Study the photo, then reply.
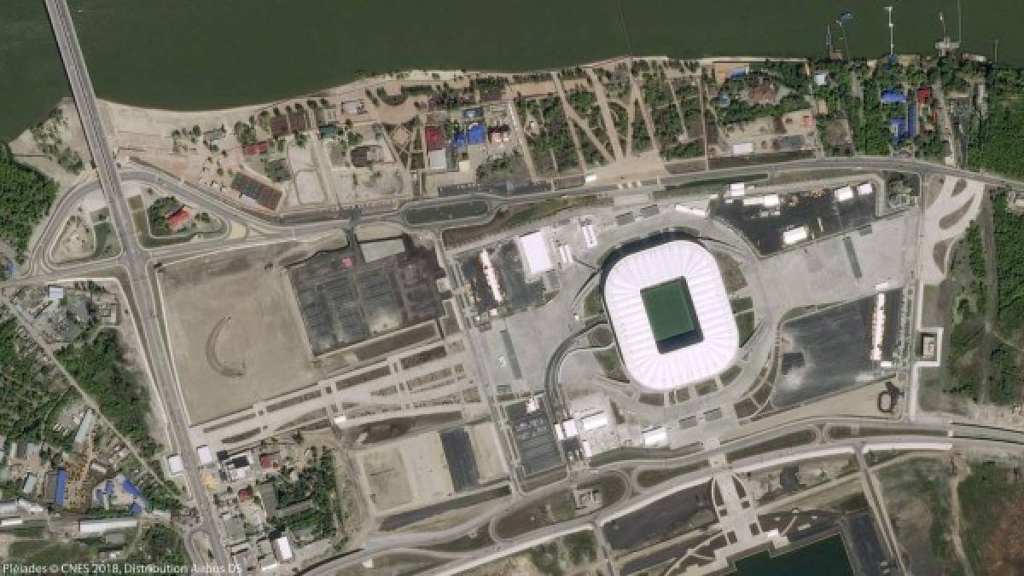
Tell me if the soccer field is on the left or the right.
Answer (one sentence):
The soccer field appears in the right half of the scene.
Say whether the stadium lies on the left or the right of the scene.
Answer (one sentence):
The stadium sits on the right side.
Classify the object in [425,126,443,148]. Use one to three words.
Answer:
building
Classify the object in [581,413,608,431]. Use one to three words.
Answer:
building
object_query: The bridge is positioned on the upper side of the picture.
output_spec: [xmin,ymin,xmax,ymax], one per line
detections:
[45,0,138,245]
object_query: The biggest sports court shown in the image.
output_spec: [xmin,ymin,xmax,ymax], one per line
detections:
[296,171,326,204]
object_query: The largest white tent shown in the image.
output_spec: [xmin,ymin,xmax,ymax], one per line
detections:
[782,225,809,245]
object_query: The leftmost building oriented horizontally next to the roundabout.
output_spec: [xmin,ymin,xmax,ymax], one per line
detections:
[360,238,405,262]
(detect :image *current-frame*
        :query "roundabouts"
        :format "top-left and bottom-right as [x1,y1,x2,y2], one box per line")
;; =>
[402,193,496,230]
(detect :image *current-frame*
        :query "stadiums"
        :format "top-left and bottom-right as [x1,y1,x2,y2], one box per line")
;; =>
[604,240,739,390]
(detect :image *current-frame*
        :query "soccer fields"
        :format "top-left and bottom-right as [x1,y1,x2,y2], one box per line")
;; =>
[645,282,699,349]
